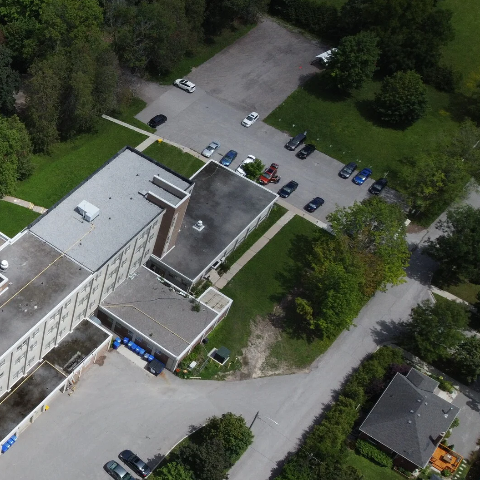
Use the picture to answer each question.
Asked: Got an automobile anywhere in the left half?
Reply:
Yes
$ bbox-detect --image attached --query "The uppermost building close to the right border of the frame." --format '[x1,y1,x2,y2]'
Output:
[354,370,462,477]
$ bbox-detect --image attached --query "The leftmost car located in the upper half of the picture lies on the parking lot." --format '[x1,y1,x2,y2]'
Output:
[146,109,170,129]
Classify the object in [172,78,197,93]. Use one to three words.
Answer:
car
